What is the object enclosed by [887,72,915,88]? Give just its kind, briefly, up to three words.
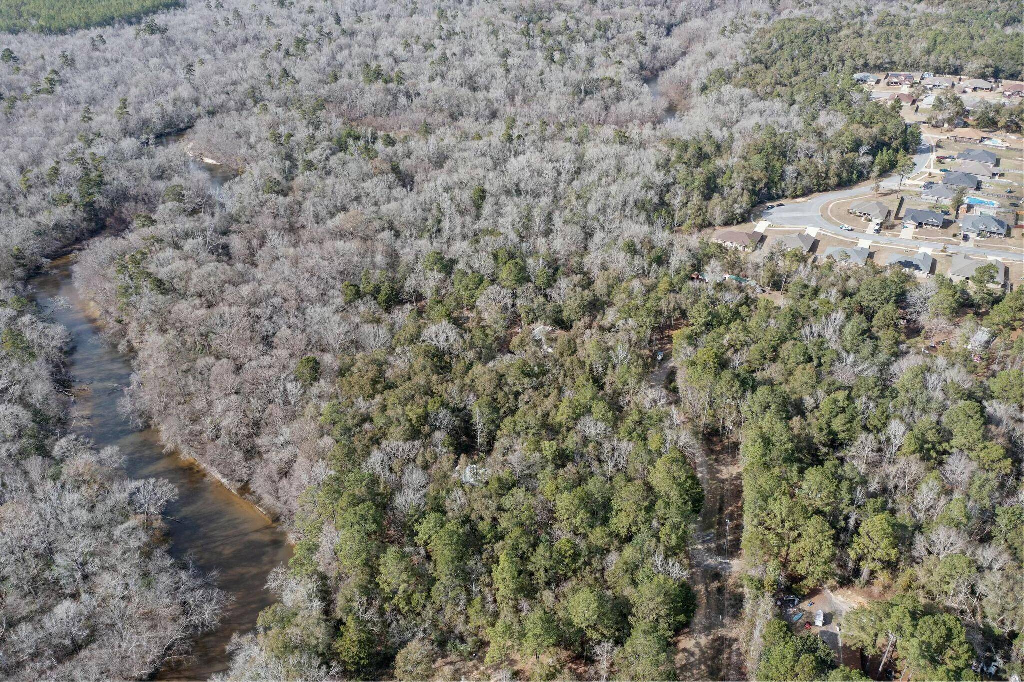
house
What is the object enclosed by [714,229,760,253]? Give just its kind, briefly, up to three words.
house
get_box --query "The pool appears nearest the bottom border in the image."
[962,195,1001,207]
